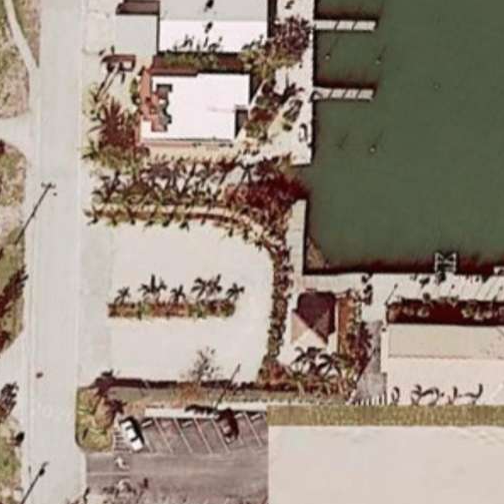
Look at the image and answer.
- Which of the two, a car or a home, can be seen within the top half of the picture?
home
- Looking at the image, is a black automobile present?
No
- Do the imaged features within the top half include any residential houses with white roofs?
Yes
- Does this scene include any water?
Yes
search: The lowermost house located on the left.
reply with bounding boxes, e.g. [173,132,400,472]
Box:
[140,70,250,148]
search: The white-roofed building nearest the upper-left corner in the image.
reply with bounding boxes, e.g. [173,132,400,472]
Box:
[114,15,157,55]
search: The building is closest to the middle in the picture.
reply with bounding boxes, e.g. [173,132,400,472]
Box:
[291,309,327,345]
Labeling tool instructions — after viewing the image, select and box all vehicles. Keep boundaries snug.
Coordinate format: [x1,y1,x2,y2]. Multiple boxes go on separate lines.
[120,420,144,451]
[220,412,239,440]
